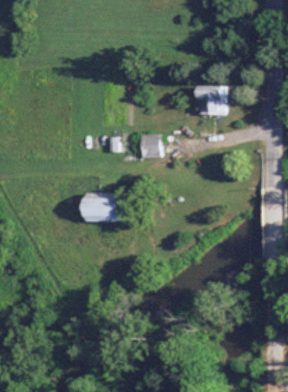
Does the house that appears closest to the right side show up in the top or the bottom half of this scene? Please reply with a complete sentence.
It is in the top half that the house that appears closest to the right side appears.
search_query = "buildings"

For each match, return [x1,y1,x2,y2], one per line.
[78,192,120,222]
[193,86,230,120]
[110,137,122,152]
[140,134,164,158]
